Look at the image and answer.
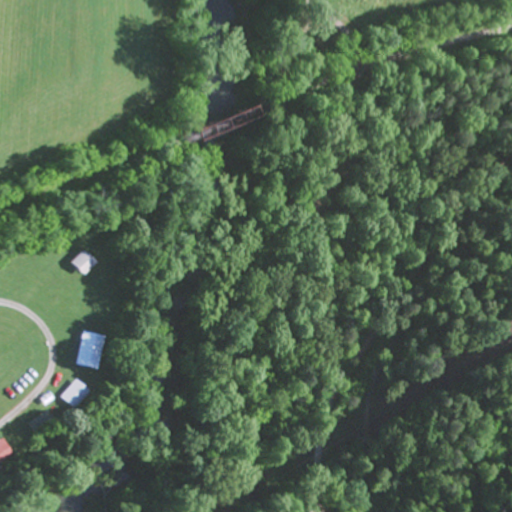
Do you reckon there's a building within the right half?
No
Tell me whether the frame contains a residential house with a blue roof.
Yes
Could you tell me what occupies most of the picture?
trees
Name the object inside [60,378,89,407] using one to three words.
house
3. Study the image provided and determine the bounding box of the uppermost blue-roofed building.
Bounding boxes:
[76,331,105,370]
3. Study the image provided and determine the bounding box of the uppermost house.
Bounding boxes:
[71,250,96,276]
